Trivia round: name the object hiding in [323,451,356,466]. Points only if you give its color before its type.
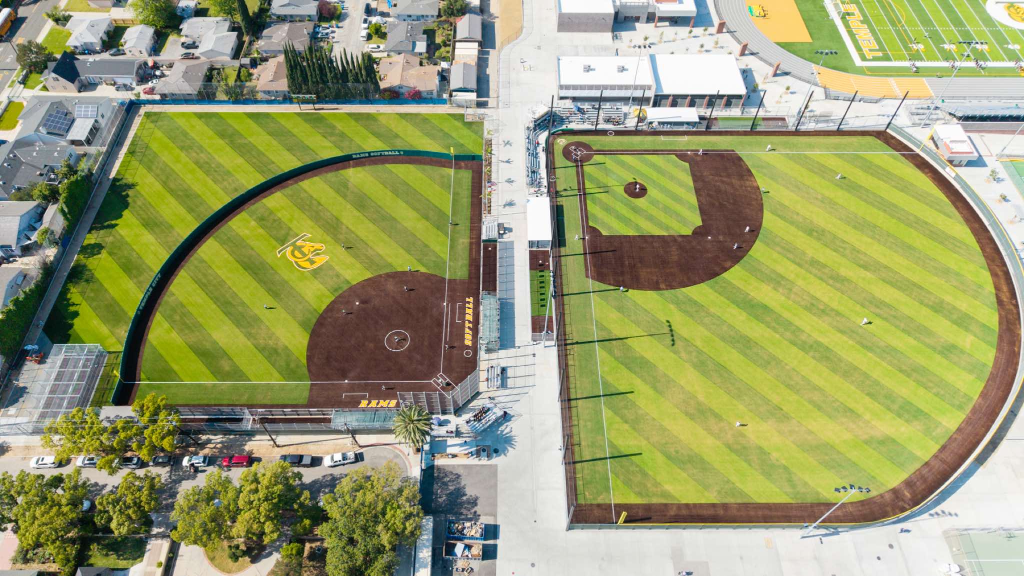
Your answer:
white vehicle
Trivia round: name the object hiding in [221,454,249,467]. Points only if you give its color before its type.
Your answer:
red vehicle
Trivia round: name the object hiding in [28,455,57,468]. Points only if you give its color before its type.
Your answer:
white vehicle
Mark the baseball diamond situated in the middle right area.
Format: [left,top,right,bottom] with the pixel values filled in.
[550,130,1020,526]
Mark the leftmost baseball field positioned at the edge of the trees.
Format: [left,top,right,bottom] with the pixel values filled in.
[40,111,483,414]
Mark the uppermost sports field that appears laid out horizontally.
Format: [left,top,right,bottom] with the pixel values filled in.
[745,0,1024,80]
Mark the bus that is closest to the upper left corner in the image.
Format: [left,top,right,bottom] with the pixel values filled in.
[0,11,20,39]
